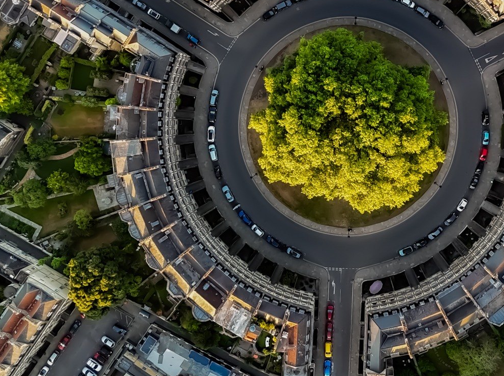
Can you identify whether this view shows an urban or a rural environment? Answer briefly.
urban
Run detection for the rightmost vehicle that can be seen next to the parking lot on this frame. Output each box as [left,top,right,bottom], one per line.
[134,307,153,320]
